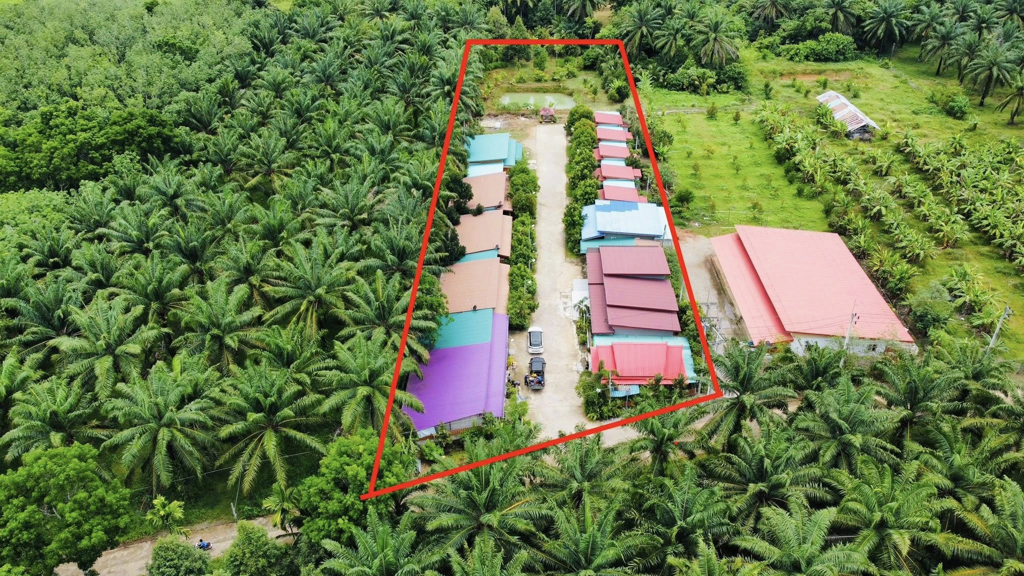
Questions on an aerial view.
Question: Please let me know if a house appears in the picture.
Yes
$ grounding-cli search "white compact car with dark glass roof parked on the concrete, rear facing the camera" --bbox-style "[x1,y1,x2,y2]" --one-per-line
[527,329,544,356]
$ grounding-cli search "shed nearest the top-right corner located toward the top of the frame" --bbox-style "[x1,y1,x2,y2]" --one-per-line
[812,91,876,142]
